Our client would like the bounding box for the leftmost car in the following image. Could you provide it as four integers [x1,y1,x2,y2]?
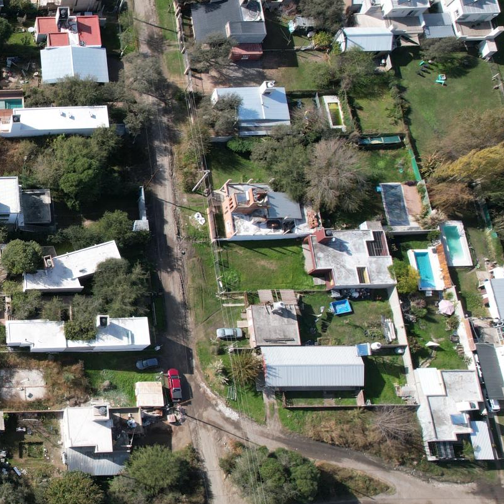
[134,356,162,371]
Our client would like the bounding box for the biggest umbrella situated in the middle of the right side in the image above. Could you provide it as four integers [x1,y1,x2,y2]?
[436,295,455,313]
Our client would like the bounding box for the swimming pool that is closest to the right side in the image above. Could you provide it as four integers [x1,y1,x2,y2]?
[441,220,473,266]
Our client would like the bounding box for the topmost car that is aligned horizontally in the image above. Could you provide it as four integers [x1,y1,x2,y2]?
[215,326,244,340]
